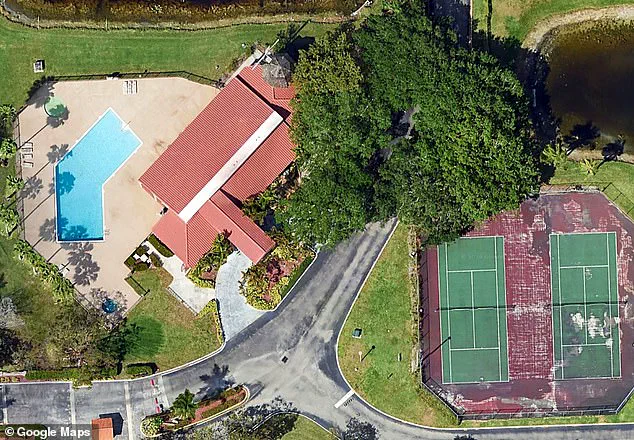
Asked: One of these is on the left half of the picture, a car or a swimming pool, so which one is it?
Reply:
swimming pool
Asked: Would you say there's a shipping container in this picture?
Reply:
No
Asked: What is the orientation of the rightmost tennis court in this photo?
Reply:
from top to bottom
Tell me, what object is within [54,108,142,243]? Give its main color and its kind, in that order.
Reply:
blue swimming pool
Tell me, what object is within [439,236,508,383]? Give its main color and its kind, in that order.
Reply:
green tennis court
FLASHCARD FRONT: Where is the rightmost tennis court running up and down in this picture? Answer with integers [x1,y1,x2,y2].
[550,232,620,379]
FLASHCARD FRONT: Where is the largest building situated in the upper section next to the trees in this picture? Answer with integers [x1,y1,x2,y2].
[139,62,316,269]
